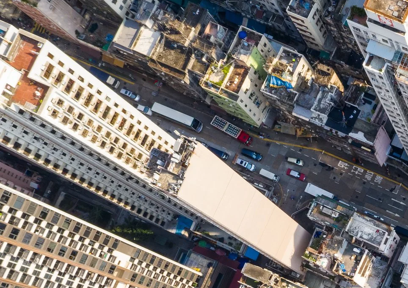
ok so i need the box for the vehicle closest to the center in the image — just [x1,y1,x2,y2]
[209,146,229,160]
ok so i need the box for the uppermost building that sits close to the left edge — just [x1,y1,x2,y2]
[2,0,88,42]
